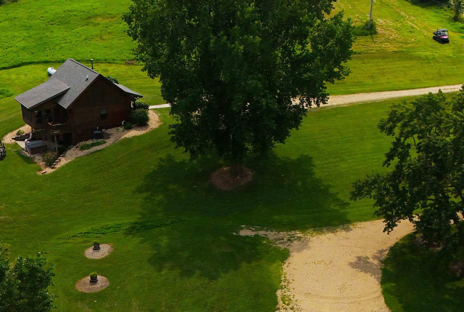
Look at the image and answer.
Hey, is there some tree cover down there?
Yes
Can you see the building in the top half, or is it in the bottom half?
top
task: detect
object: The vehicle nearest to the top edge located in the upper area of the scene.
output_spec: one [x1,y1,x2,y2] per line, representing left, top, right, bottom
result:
[432,25,449,44]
